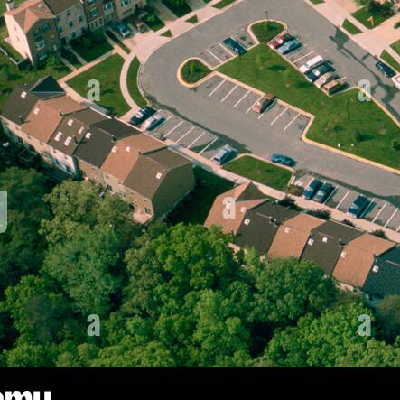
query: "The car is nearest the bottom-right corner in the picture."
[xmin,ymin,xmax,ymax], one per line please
[347,193,369,214]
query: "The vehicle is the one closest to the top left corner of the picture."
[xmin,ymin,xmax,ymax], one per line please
[111,16,131,36]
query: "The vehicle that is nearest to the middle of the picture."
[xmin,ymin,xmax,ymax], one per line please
[212,142,237,163]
